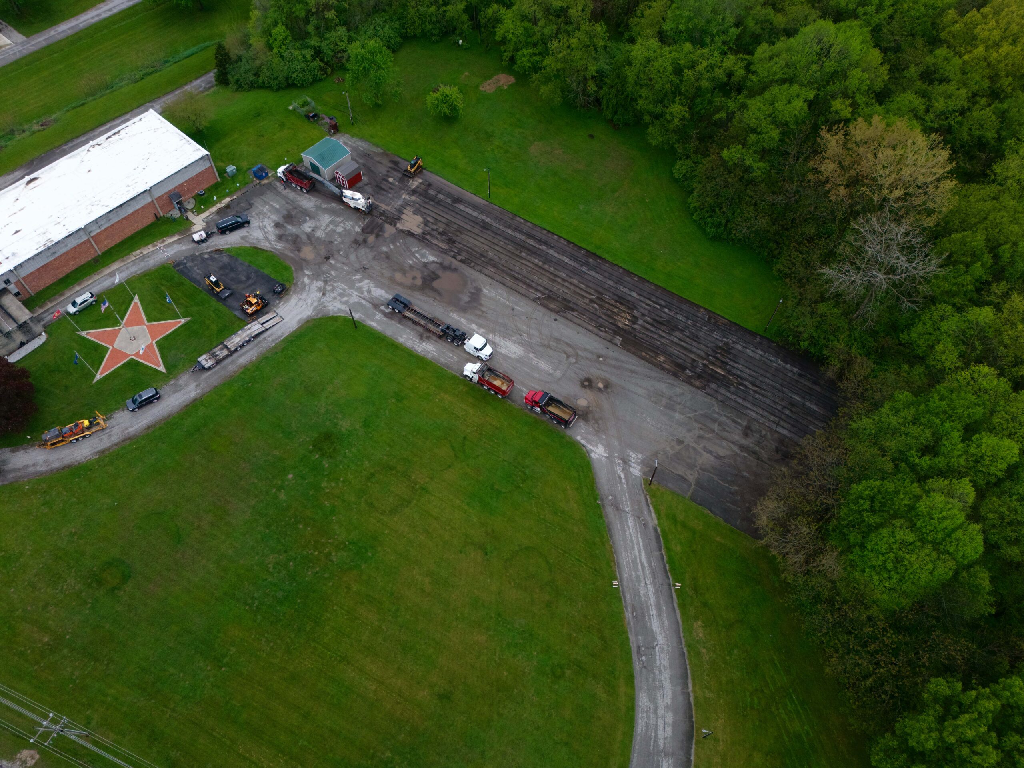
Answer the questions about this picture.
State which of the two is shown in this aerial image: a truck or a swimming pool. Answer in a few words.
truck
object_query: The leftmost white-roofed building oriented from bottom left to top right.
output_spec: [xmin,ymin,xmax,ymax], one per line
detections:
[0,106,221,338]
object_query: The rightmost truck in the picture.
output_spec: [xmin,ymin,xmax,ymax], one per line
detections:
[522,390,579,429]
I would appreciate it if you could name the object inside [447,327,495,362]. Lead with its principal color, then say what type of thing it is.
white truck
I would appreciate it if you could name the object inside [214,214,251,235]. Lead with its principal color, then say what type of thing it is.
black car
